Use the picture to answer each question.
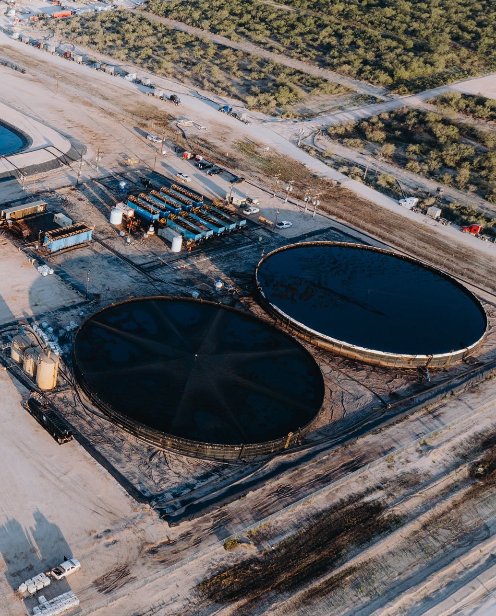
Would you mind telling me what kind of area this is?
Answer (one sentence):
This looks like an industrial area.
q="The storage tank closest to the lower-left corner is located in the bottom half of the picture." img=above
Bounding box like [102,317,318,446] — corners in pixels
[25,392,69,442]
